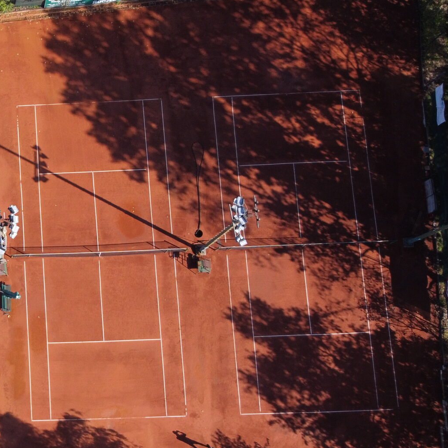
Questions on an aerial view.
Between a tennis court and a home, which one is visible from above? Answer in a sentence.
Visible in the photo is a tennis court.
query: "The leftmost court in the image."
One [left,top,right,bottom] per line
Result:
[10,92,194,428]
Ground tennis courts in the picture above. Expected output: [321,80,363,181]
[10,92,194,428]
[205,84,408,422]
